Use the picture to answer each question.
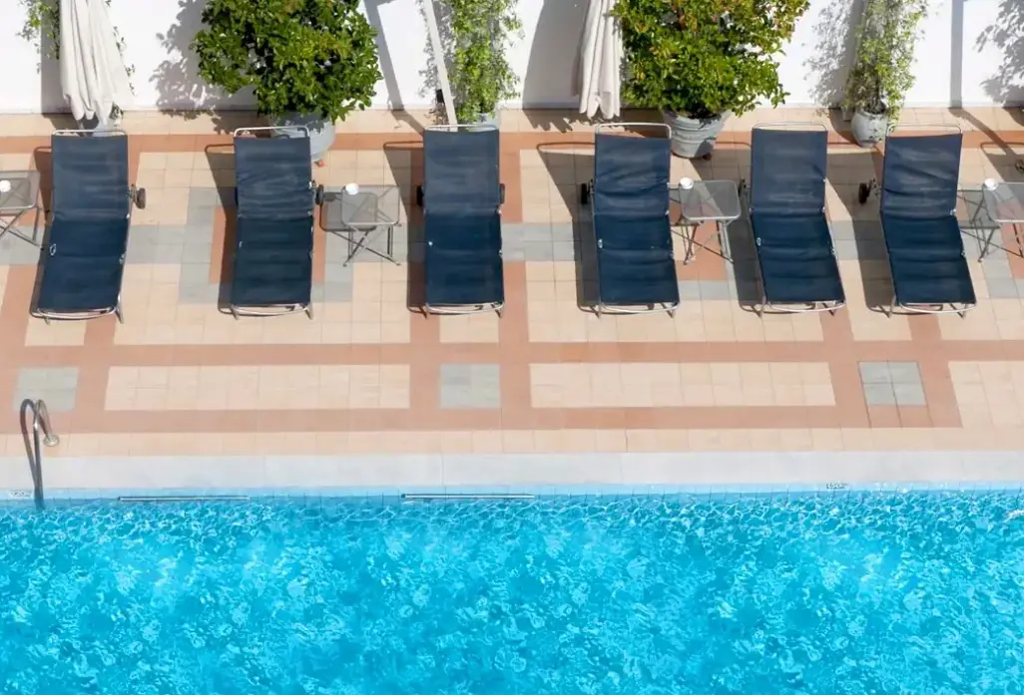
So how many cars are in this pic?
none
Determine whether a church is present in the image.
No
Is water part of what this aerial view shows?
Yes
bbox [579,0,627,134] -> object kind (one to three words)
umbrella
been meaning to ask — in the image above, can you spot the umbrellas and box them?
[59,0,138,136]
[579,0,627,134]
